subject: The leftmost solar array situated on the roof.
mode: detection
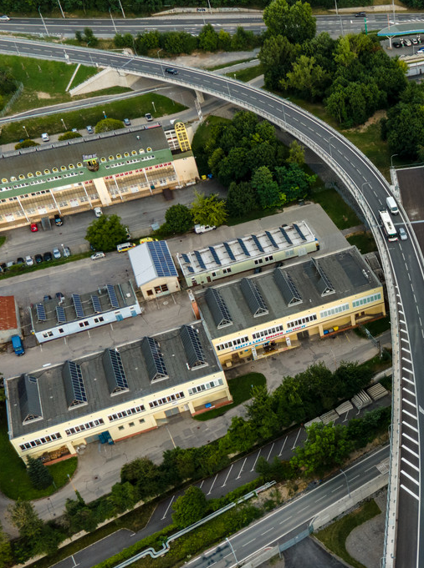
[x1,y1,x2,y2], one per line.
[71,361,87,402]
